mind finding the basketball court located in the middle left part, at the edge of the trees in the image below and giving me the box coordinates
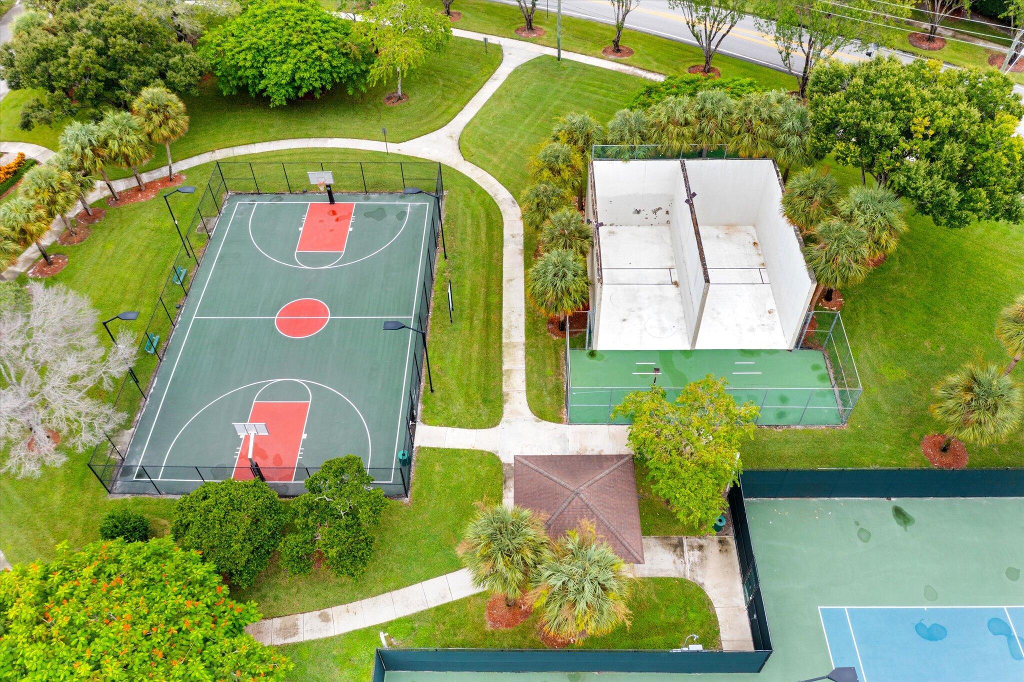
[106,193,444,498]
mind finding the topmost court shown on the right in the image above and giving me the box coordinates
[584,157,820,349]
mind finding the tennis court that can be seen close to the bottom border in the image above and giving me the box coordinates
[384,497,1024,682]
